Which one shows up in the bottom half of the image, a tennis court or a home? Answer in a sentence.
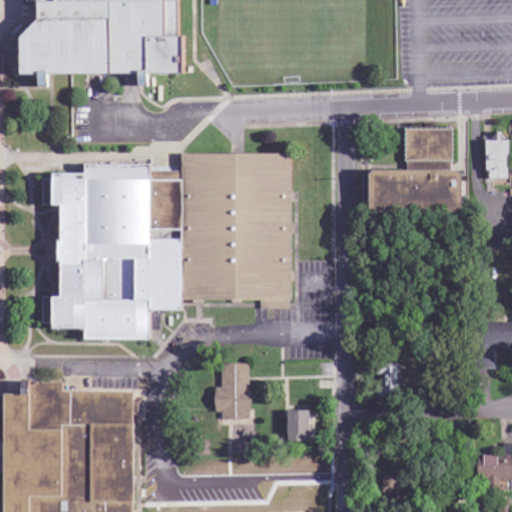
Visible in the bottom half of the image is a home.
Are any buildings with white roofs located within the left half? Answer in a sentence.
Yes, a building with a white roof appears within the left half.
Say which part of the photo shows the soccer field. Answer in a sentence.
Look in the top portion of the view to spot the soccer field.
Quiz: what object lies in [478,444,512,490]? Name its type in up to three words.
house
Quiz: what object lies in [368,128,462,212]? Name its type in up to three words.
building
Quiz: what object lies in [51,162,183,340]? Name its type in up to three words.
building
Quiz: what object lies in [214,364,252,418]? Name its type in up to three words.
house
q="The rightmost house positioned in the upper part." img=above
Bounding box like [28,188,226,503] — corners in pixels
[484,130,510,179]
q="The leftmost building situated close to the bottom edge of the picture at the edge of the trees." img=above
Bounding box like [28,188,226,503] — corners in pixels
[4,380,134,512]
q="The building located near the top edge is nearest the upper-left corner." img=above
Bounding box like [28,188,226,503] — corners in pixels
[19,0,187,74]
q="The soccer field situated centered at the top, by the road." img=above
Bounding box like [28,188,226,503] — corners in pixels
[219,0,366,84]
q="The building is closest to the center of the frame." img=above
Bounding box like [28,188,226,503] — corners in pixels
[183,153,294,306]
